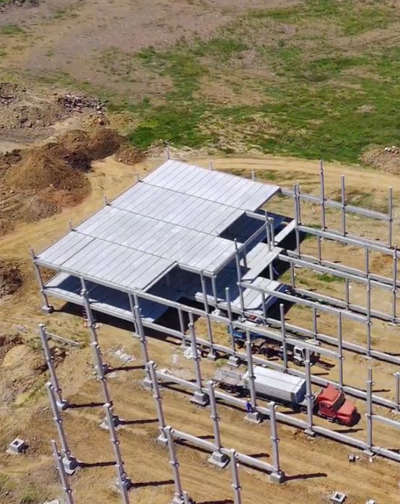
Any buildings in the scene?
No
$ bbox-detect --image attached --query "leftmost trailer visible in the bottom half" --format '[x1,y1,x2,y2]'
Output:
[212,364,248,392]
